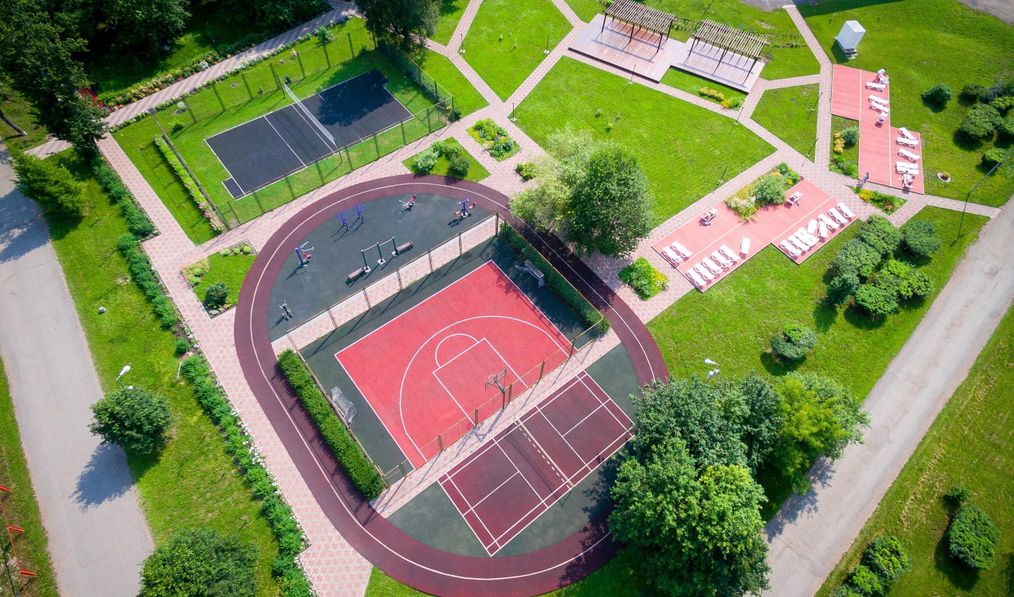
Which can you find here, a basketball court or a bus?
basketball court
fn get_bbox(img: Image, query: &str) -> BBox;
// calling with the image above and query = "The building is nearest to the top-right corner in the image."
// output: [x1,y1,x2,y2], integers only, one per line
[836,17,868,53]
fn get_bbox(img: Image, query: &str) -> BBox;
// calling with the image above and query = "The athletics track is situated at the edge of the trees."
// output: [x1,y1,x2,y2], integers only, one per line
[236,174,674,597]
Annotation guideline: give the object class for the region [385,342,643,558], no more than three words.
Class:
sports court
